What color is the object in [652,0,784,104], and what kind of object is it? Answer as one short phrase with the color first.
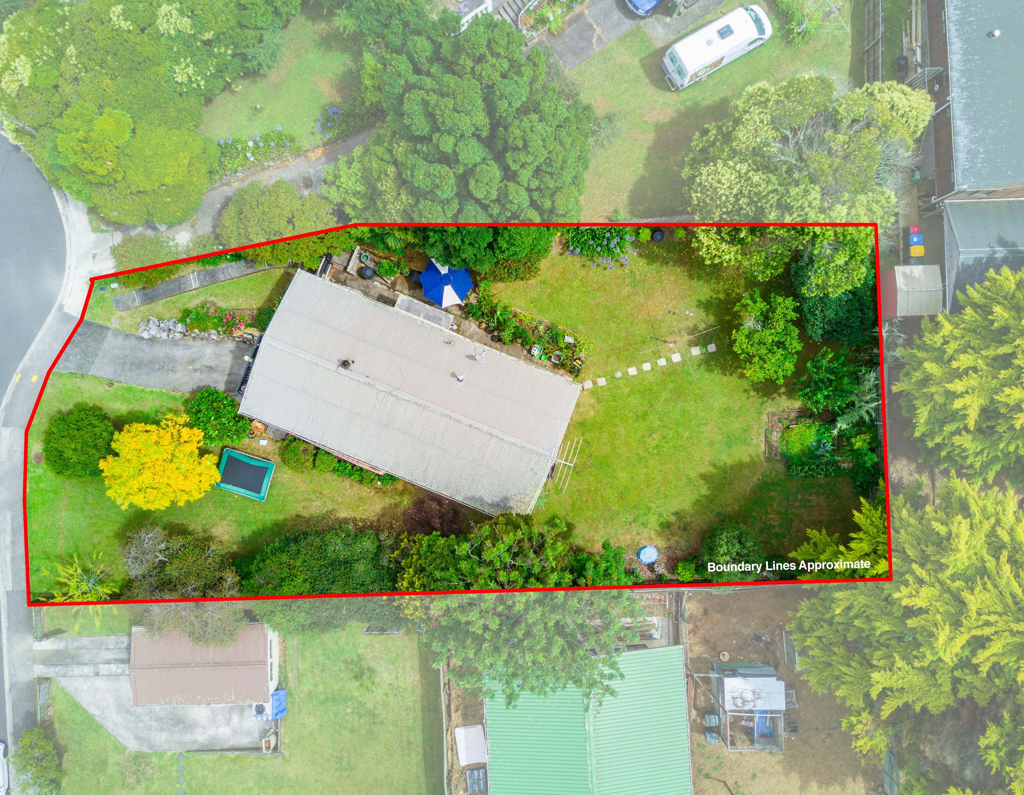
white van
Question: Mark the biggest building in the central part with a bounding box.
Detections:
[227,265,583,527]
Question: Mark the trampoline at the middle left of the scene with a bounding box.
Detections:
[216,448,278,500]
